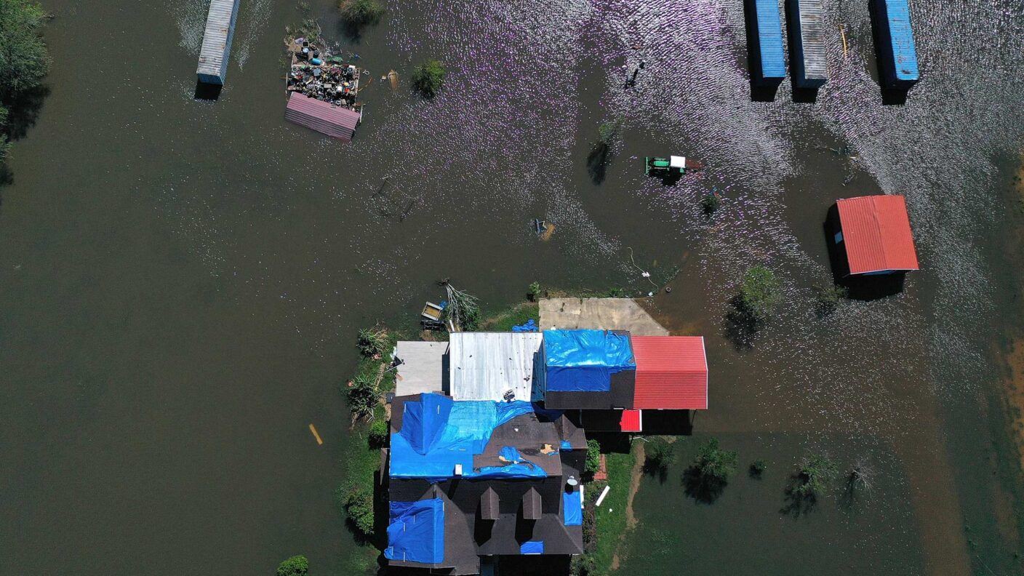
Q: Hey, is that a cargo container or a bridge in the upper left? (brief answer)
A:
cargo container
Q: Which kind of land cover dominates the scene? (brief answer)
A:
water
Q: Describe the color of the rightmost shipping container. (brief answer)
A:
blue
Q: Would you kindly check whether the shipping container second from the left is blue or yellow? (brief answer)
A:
blue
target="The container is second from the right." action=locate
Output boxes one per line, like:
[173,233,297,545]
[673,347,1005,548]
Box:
[789,0,827,90]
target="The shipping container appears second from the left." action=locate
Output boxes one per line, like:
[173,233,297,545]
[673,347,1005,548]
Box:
[747,0,786,88]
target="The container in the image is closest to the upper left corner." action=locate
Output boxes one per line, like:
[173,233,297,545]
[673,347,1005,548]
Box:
[197,0,239,87]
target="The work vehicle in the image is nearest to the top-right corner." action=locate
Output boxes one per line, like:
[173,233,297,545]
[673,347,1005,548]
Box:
[644,156,684,176]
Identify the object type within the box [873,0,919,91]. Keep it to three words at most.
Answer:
shipping container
